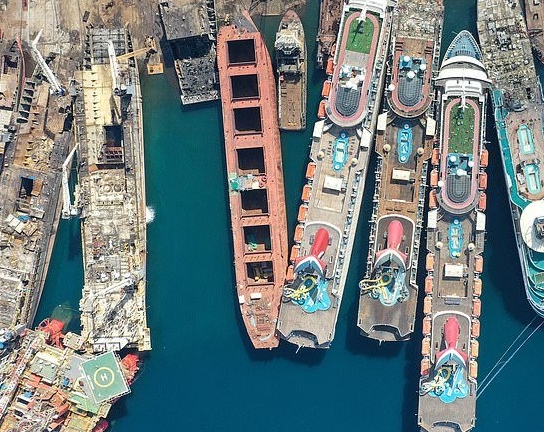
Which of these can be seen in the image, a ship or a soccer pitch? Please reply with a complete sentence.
There is a ship in the scene.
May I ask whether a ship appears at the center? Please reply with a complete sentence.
Yes, at the center there is a ship.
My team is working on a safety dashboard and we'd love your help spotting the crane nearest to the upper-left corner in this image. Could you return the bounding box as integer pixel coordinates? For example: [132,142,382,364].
[31,34,71,100]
